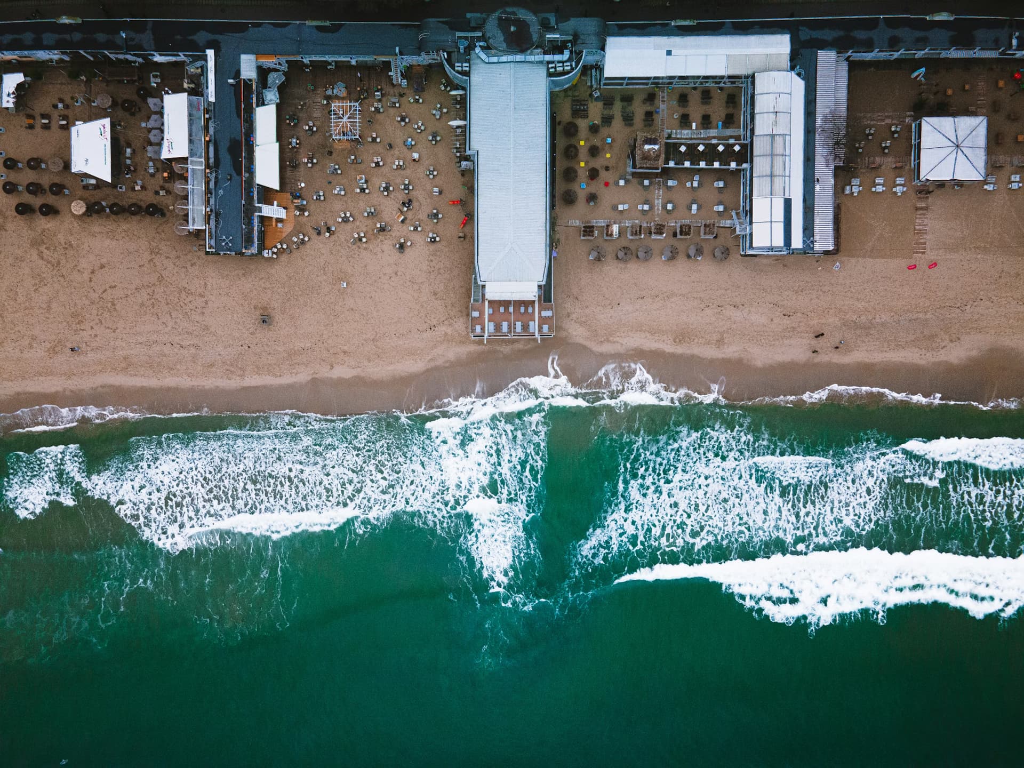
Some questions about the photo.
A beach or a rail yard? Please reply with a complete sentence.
The picture captures a beach.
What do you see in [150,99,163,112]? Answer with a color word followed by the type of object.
gray umbrella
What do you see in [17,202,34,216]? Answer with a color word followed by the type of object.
black umbrella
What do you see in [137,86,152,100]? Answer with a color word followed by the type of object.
black umbrella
